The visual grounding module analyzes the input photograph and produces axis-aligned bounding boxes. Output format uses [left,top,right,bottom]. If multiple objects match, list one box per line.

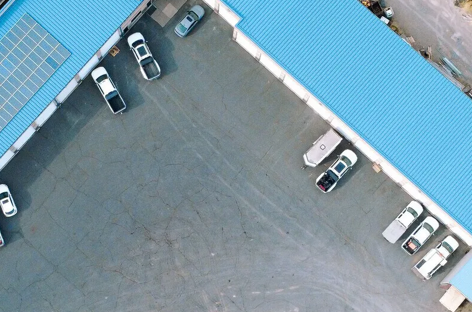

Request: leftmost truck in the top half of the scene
[92,67,125,117]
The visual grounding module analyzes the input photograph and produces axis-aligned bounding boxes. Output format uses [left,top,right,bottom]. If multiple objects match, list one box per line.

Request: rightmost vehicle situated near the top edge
[174,5,205,39]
